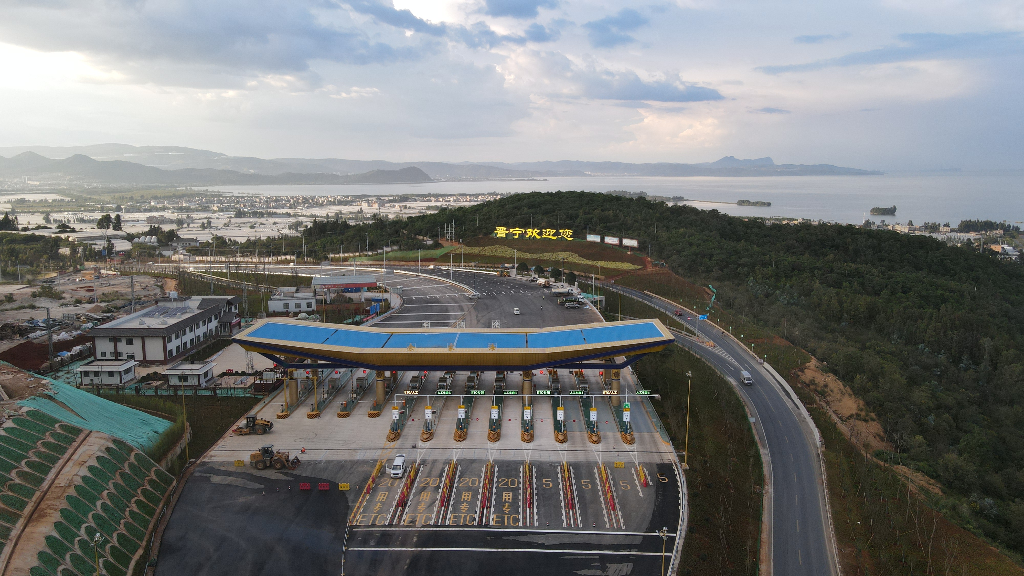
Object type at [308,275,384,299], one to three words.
gas station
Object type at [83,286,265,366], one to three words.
building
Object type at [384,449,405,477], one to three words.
vehicle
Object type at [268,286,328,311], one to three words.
building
